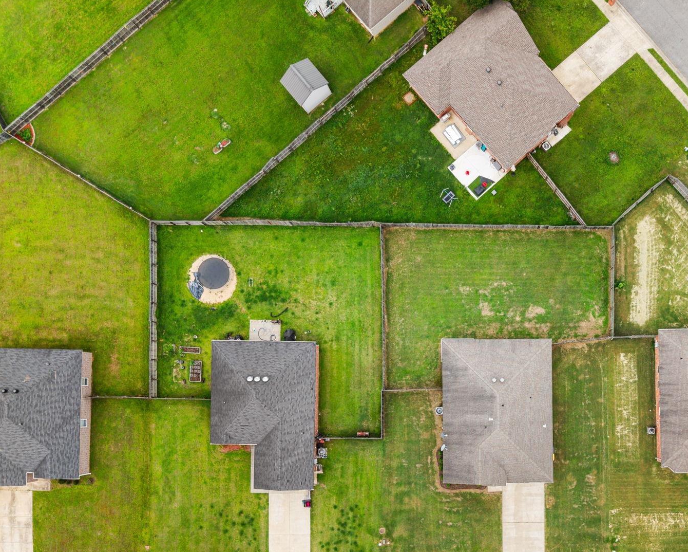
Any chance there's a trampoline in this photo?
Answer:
Yes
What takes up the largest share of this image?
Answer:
grass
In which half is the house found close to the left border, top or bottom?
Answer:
bottom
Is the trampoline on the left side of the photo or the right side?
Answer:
left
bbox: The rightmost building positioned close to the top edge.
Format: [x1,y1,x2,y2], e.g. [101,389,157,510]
[403,1,580,173]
